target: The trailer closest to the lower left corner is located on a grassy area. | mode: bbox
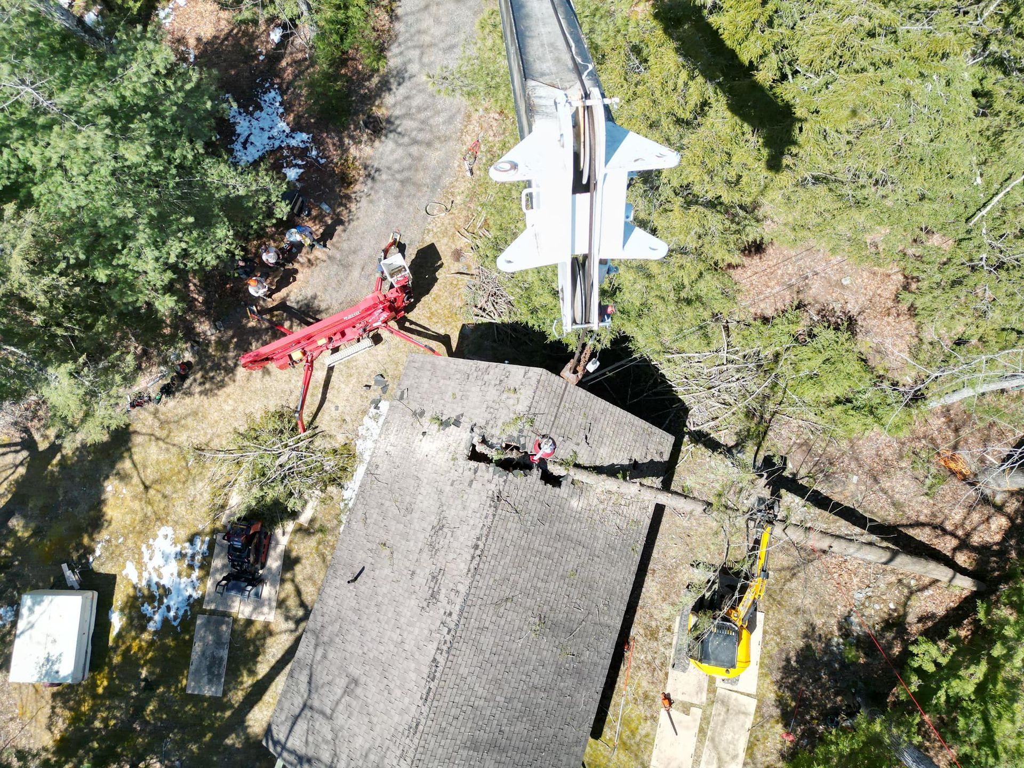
[9,554,100,683]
